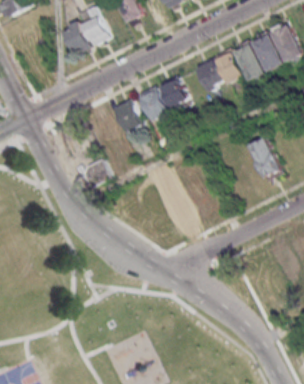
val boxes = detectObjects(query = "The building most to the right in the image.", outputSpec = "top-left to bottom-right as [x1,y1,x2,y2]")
[268,22,302,62]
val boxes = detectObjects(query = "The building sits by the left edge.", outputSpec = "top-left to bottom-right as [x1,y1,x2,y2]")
[0,0,38,20]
